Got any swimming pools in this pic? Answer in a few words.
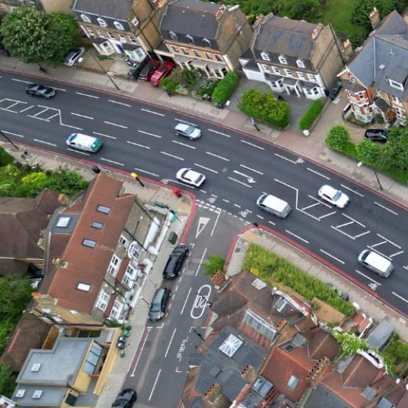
No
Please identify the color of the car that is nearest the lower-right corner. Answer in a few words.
white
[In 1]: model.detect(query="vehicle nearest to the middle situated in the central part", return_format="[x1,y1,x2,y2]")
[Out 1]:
[177,168,206,188]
